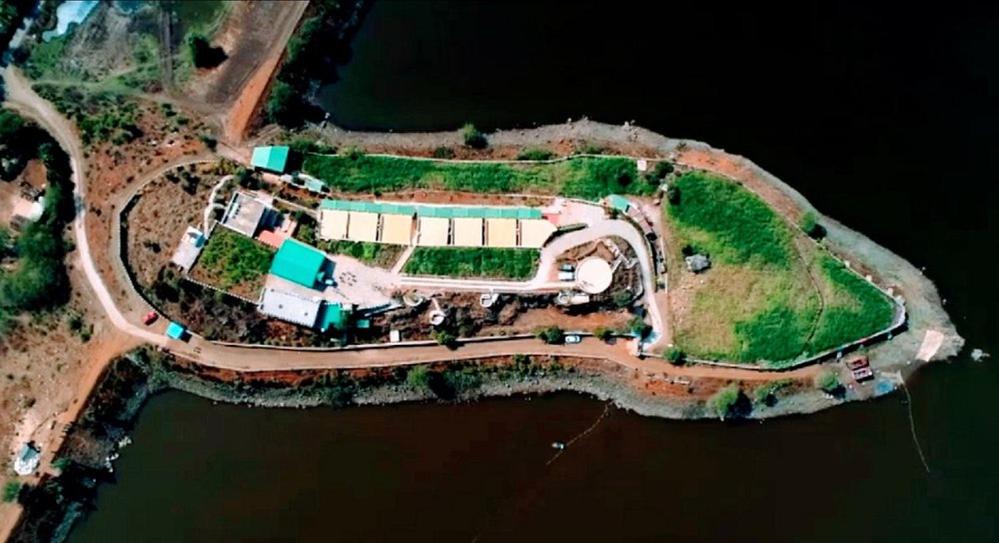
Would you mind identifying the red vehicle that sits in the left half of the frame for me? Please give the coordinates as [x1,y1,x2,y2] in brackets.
[141,311,157,325]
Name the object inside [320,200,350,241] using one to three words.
house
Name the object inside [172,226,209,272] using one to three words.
shed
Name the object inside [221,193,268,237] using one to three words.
building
